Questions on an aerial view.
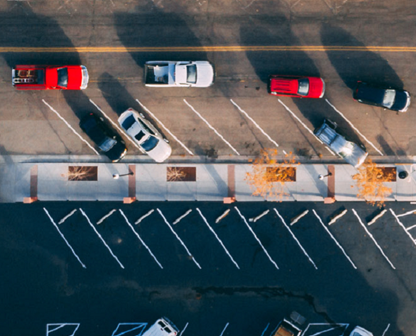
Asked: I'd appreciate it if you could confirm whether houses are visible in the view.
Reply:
No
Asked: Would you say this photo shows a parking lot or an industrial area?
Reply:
parking lot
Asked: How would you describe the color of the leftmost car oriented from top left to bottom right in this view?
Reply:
black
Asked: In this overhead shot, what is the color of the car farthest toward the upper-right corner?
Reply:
black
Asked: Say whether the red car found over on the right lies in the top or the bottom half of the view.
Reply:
top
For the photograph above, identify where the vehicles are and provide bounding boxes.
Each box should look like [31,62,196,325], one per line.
[116,108,172,165]
[10,62,91,93]
[351,80,411,113]
[266,73,327,99]
[310,116,370,169]
[349,325,374,336]
[141,314,179,336]
[142,58,216,88]
[78,112,128,163]
[269,318,303,336]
